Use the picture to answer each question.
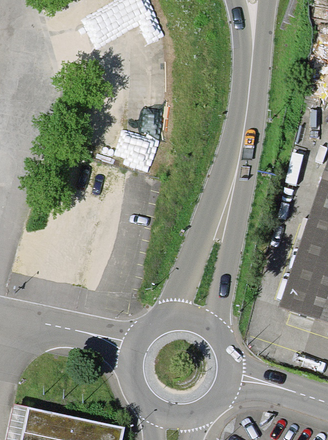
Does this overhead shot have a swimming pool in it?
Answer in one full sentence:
No, the photo shows no swimming pool.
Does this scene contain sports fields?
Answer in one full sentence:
No, I find no sports field anywhere in the image.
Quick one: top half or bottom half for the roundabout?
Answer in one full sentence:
It is in the bottom half that the roundabout appears.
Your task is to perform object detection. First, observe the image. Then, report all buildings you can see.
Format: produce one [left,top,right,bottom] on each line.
[280,172,328,322]
[22,407,124,440]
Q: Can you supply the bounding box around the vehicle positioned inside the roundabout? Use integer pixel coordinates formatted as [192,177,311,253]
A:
[226,344,243,363]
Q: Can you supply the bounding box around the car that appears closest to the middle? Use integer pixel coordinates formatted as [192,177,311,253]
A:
[130,214,150,226]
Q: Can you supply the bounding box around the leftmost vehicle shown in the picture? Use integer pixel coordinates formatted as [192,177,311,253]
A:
[78,164,92,190]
